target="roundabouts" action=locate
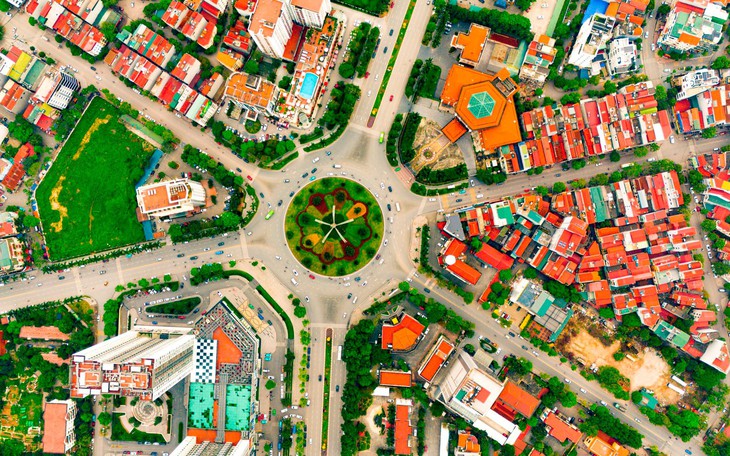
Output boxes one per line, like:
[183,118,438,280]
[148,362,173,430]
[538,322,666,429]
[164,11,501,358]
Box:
[284,177,384,277]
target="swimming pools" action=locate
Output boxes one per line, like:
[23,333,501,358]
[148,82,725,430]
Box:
[299,72,321,100]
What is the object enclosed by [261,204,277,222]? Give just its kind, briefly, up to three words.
vehicle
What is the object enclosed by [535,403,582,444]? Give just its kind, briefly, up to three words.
house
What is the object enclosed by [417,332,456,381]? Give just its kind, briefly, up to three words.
building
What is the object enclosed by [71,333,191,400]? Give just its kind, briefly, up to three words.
building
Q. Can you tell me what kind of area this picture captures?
residential area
